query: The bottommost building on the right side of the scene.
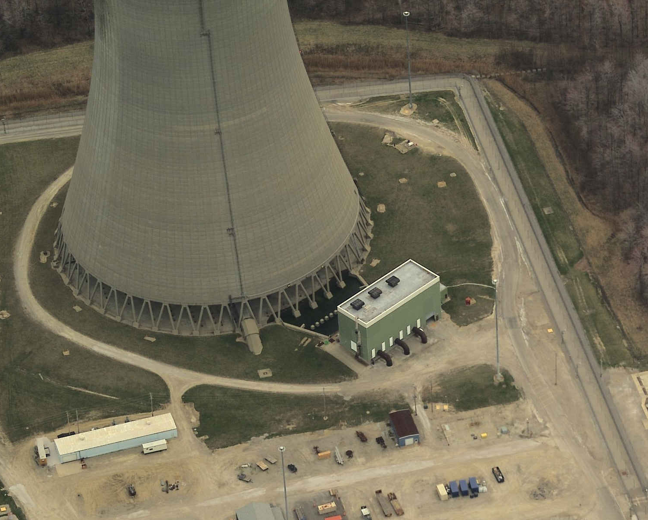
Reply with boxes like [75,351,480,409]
[388,408,419,447]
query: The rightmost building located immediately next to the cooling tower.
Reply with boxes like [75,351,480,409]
[336,259,446,365]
